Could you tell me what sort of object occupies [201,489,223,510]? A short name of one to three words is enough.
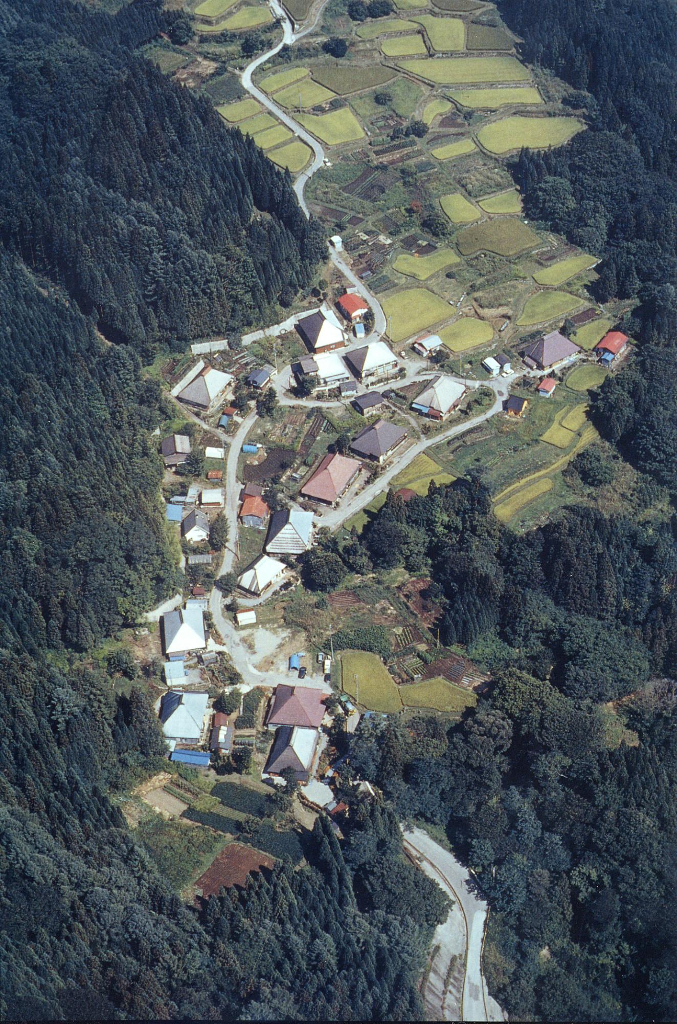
building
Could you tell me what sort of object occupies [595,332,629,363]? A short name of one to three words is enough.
barn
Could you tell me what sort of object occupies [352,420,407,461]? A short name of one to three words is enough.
house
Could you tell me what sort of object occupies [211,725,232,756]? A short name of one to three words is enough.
shed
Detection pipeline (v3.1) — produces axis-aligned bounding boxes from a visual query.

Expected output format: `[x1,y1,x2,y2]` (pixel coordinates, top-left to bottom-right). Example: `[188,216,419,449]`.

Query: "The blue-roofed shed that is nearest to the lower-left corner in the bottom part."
[171,750,212,771]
